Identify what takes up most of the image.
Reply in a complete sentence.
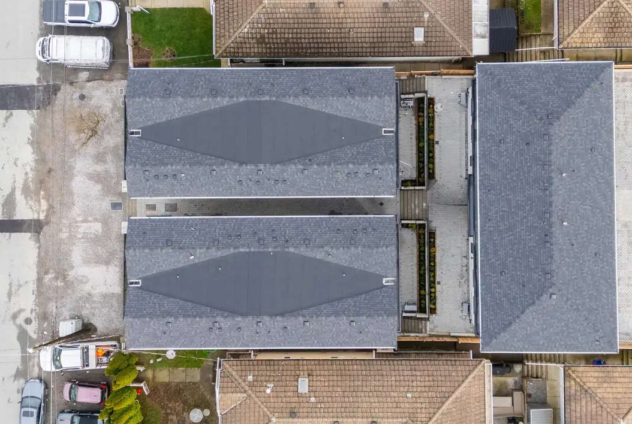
The bulk of the photo consists of buildings.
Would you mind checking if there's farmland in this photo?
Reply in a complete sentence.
No, there is no farmland in the image.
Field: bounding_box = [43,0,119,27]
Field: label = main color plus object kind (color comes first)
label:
white truck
